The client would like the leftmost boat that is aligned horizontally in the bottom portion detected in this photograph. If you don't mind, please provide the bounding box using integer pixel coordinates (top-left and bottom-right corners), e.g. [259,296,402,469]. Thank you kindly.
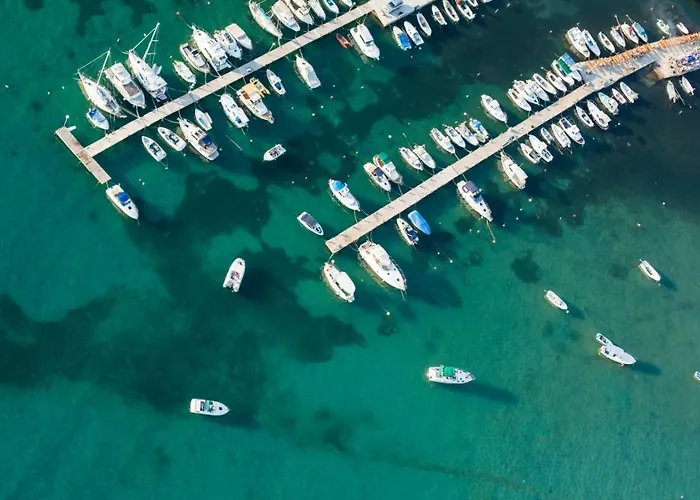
[187,399,230,416]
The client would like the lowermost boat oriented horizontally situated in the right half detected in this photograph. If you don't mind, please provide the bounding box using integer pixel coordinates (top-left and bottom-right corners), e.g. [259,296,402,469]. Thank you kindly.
[421,366,479,385]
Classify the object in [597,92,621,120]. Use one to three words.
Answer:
boat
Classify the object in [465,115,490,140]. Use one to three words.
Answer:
boat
